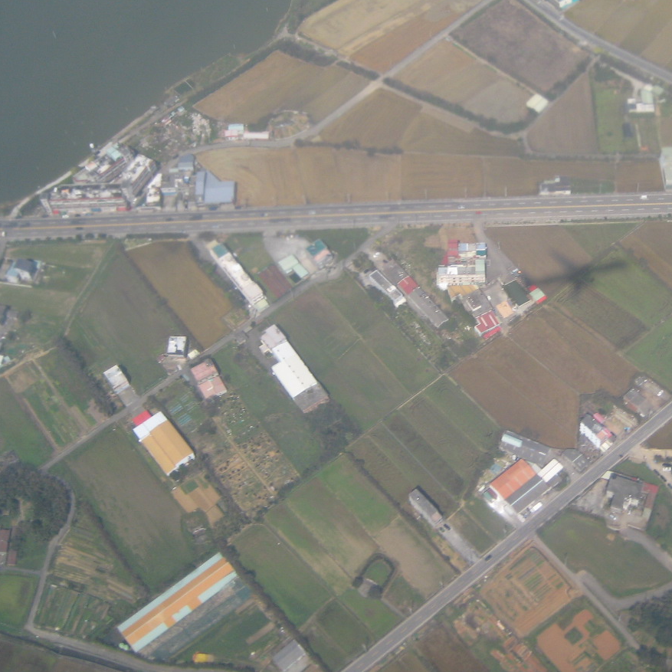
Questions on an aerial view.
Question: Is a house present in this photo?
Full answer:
Yes, the picture does show a house.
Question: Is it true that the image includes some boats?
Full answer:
No, there's no boat here.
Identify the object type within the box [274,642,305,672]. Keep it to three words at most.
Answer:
shed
